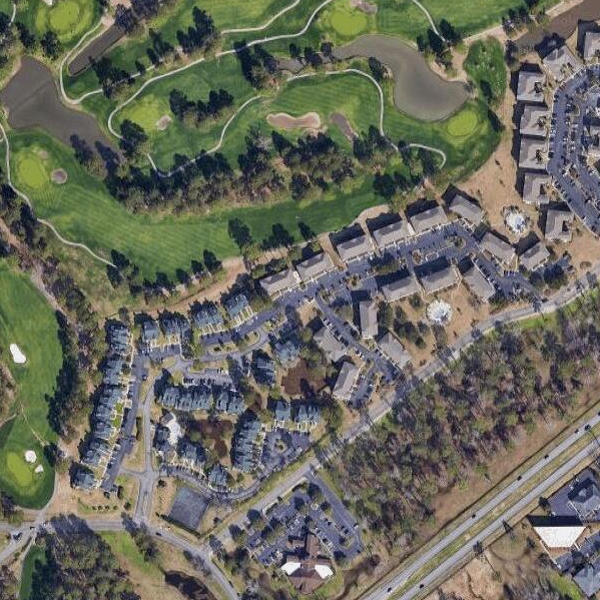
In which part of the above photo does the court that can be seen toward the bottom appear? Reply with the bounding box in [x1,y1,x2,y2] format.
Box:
[168,486,211,530]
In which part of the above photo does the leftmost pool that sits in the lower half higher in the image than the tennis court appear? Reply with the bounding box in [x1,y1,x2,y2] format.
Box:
[166,415,182,445]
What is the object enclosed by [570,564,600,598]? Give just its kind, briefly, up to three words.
building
